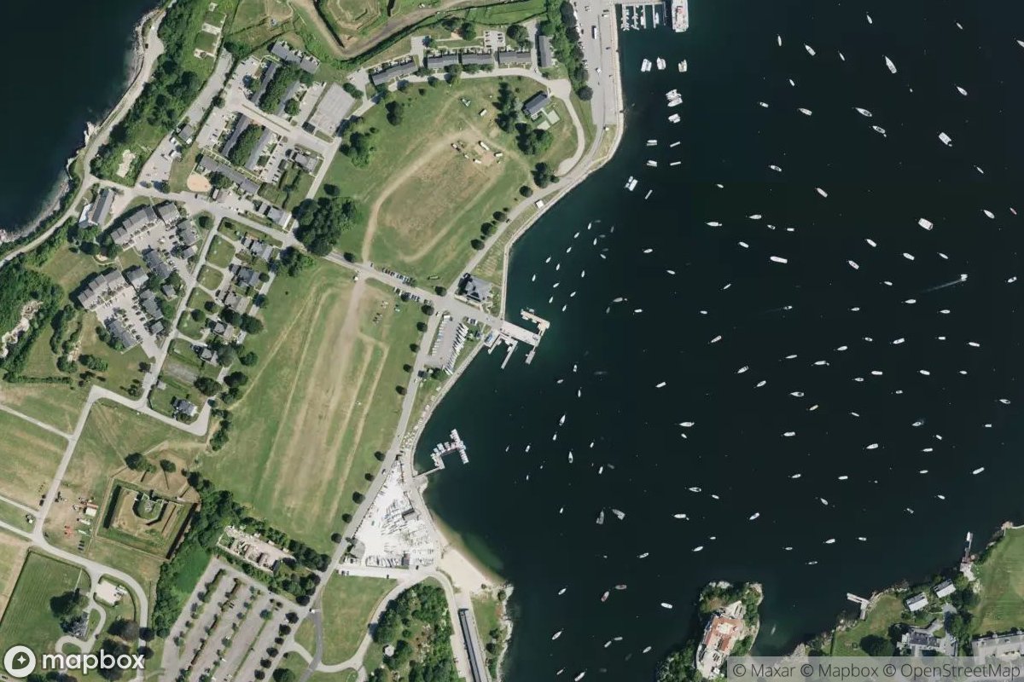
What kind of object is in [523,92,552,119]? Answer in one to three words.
house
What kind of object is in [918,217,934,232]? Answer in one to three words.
boat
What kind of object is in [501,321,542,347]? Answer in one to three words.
pier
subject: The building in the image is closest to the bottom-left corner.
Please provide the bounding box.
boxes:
[63,615,89,636]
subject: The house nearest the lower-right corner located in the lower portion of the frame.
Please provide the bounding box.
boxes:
[972,630,1024,676]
